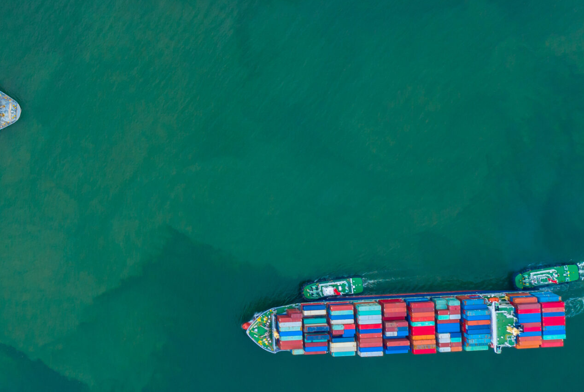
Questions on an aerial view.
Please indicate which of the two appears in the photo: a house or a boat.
boat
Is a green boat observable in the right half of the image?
Yes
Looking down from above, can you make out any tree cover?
No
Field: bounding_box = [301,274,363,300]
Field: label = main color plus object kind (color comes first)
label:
green boat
